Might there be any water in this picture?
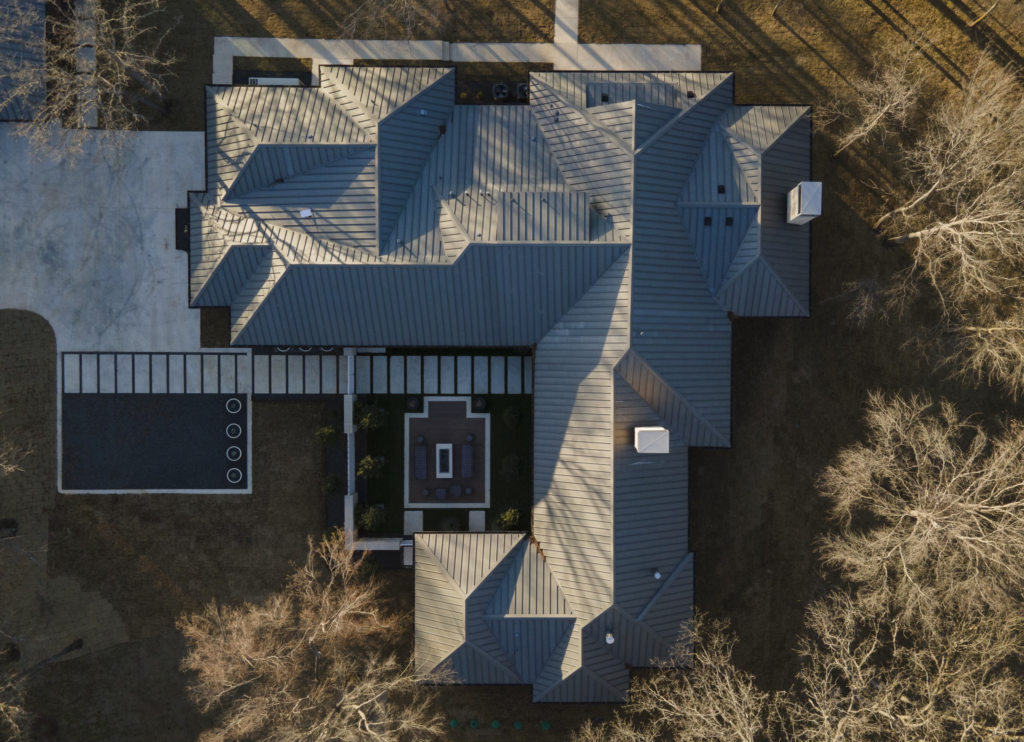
No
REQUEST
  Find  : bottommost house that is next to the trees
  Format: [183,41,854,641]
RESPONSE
[186,63,822,705]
